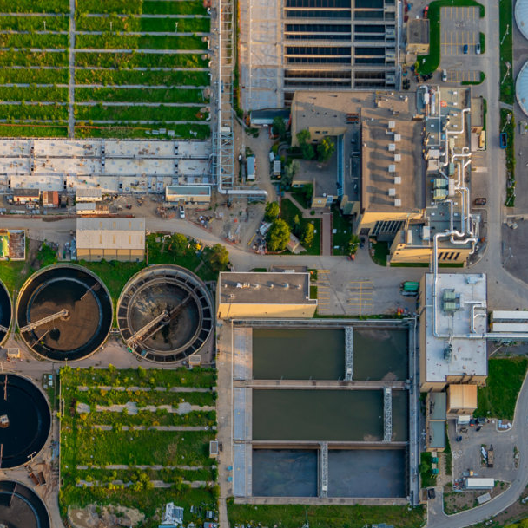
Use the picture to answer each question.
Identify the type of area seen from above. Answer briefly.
industrial area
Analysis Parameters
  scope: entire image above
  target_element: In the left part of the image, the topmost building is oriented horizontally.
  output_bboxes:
[166,186,210,202]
